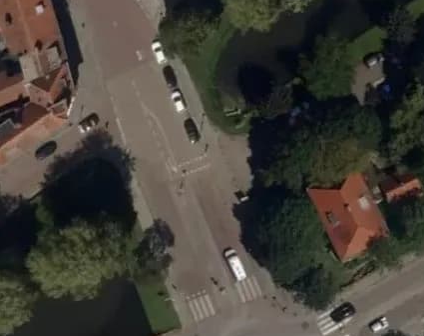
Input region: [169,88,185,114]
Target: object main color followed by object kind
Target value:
white car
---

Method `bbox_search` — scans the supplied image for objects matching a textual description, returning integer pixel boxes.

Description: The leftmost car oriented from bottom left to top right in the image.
[33,140,58,160]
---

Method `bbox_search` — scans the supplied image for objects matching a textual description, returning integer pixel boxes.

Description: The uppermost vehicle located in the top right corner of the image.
[360,52,384,69]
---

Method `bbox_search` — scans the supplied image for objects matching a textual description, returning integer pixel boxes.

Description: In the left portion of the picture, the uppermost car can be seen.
[151,40,168,64]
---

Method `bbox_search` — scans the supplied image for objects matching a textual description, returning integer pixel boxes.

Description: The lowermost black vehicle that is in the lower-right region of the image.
[328,301,357,323]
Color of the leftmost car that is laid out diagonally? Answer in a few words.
black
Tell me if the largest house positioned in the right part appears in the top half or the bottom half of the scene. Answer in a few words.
bottom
